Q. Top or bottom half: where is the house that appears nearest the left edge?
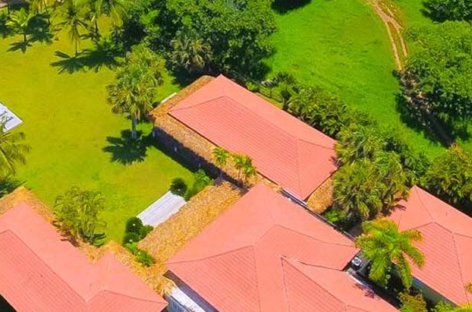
bottom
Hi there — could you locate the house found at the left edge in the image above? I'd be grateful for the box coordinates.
[0,197,178,312]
